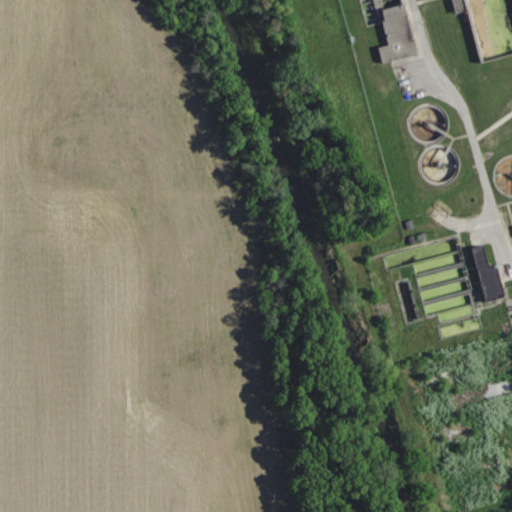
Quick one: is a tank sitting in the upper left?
No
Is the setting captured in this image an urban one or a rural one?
rural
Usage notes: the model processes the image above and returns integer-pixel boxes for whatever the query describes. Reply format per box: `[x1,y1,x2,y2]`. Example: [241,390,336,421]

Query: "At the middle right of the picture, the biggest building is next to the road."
[472,246,505,302]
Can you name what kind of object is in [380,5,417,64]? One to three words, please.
building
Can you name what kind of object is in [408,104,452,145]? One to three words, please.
storage tank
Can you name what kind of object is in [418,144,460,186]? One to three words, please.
storage tank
